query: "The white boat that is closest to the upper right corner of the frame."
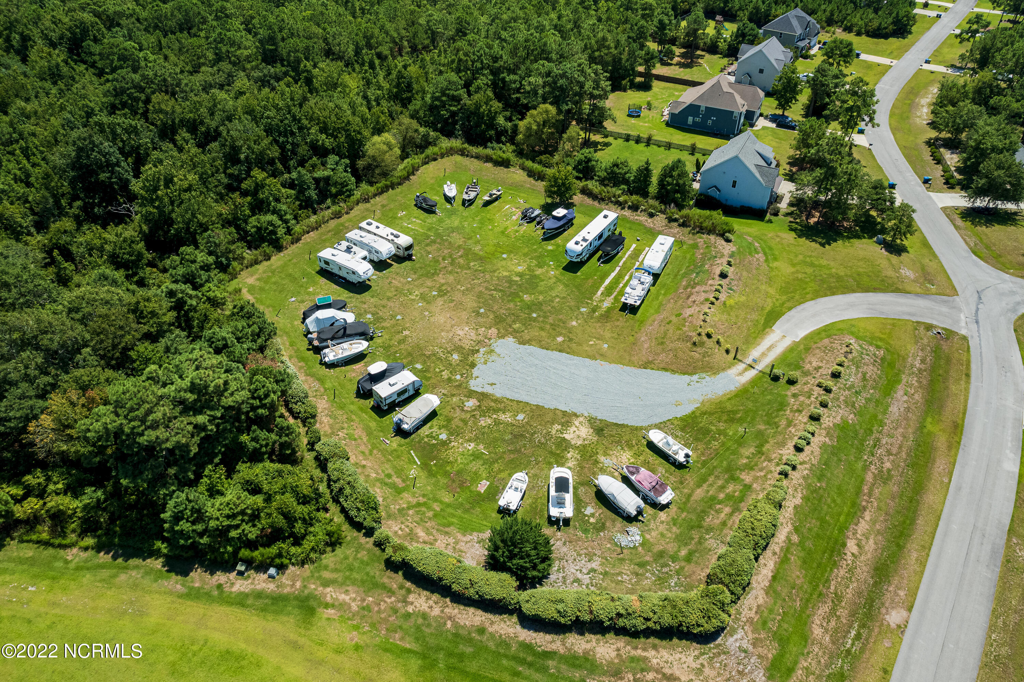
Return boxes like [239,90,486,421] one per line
[623,265,653,305]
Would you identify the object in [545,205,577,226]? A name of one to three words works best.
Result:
boat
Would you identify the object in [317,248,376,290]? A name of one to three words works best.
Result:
camper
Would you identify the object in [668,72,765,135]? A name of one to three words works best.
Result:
house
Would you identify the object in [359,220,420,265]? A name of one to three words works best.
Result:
vehicle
